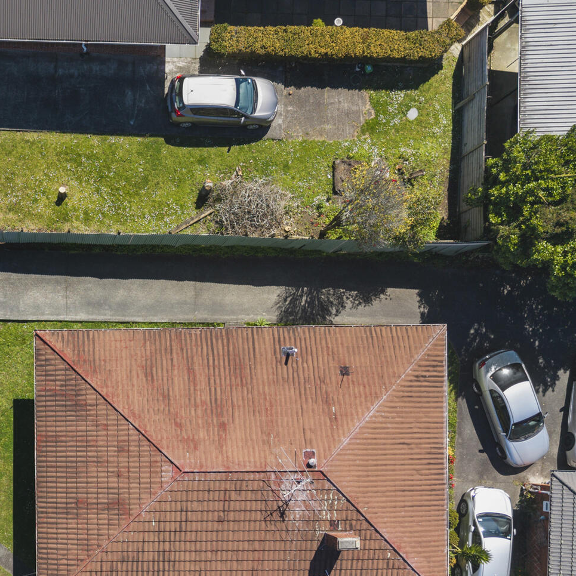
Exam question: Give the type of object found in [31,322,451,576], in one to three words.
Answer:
house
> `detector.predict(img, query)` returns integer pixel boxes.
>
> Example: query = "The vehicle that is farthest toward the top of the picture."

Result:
[167,66,283,129]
